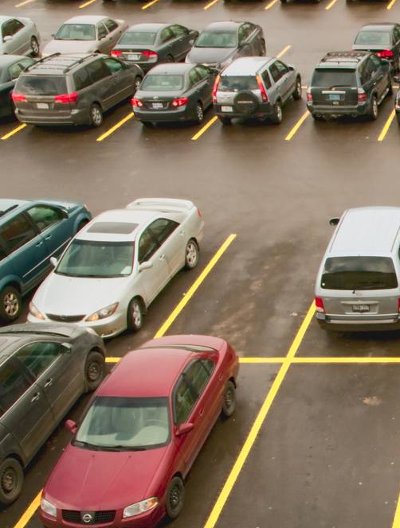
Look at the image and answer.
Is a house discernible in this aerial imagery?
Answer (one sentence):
No, the frame has no house in it.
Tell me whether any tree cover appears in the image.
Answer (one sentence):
No, there is no tree cover in the image.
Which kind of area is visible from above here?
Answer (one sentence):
The picture captures a parking lot.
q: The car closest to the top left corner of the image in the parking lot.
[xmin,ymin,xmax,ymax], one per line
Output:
[0,16,43,61]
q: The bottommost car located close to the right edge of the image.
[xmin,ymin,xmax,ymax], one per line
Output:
[315,205,400,335]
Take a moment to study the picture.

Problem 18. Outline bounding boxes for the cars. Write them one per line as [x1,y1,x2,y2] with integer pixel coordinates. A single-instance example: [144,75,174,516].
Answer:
[0,16,43,61]
[0,58,34,99]
[0,335,107,488]
[16,52,141,128]
[31,200,205,337]
[42,340,240,528]
[212,57,301,124]
[185,17,265,72]
[41,15,128,63]
[131,64,217,124]
[351,22,400,70]
[0,200,86,319]
[111,23,197,71]
[315,205,400,335]
[308,52,392,122]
